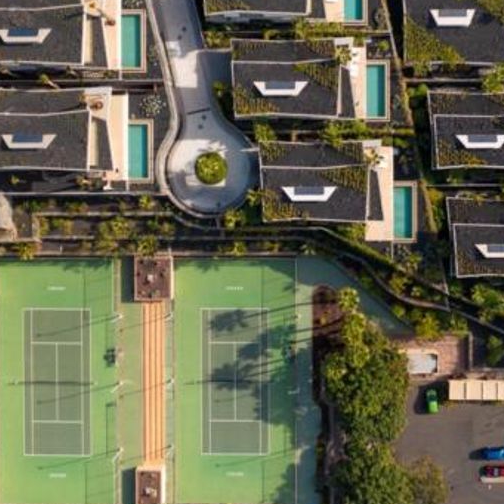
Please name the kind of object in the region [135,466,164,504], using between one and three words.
building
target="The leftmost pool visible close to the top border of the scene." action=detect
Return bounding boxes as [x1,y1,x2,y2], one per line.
[121,9,146,72]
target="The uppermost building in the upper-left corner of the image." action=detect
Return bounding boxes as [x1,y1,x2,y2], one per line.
[0,0,164,78]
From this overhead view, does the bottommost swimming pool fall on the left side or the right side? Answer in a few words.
right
